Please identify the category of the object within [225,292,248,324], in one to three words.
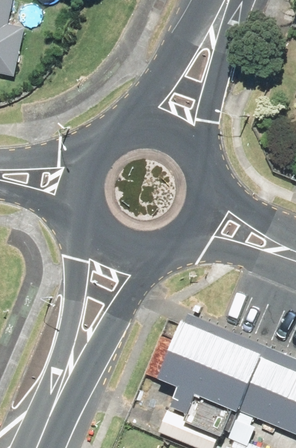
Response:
vehicle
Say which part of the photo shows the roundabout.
center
